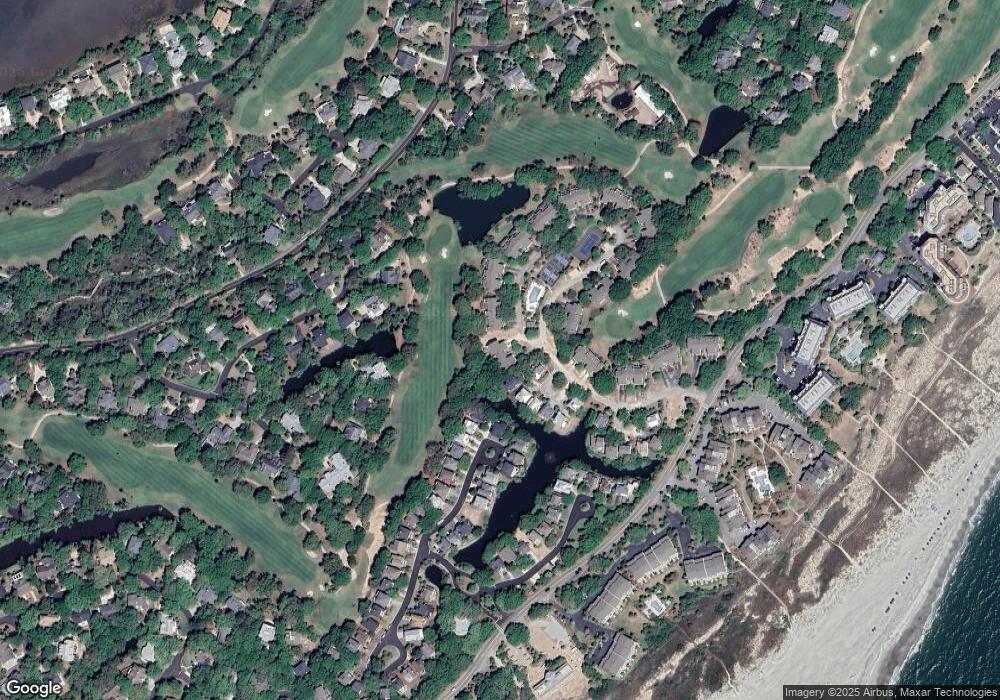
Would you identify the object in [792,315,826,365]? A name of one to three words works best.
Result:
building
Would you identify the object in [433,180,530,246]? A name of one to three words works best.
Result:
pond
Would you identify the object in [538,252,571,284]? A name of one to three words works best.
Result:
sports court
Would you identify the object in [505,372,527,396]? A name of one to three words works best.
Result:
house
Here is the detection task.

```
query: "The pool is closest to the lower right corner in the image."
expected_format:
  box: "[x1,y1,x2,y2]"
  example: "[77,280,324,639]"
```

[749,467,773,498]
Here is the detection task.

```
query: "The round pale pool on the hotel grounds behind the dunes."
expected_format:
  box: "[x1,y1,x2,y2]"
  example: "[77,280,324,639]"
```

[959,226,979,246]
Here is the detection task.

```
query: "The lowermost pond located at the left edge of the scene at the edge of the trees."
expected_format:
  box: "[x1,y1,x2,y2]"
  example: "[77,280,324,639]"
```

[0,505,174,556]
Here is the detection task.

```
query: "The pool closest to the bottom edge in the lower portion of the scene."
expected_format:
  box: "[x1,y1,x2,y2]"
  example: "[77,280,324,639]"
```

[644,594,667,618]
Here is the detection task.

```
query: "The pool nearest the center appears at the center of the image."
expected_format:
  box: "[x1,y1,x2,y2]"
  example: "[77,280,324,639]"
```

[527,282,545,311]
